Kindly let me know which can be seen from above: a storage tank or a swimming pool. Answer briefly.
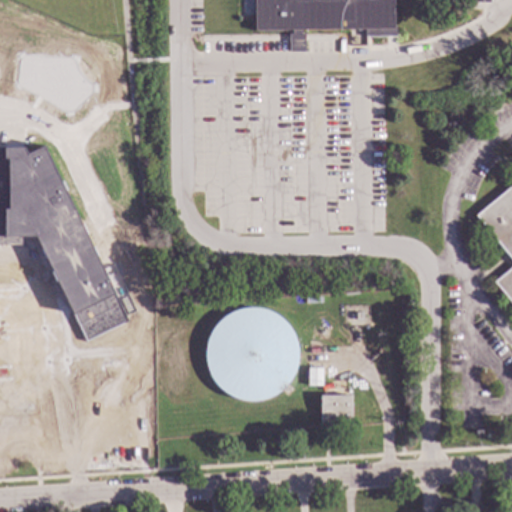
storage tank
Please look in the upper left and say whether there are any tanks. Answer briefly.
No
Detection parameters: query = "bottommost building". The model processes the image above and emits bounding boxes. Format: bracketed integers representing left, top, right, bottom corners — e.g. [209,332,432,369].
[322,394,354,420]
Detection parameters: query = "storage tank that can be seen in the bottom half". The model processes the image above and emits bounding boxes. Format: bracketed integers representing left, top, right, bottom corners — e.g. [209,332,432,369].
[208,308,300,400]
